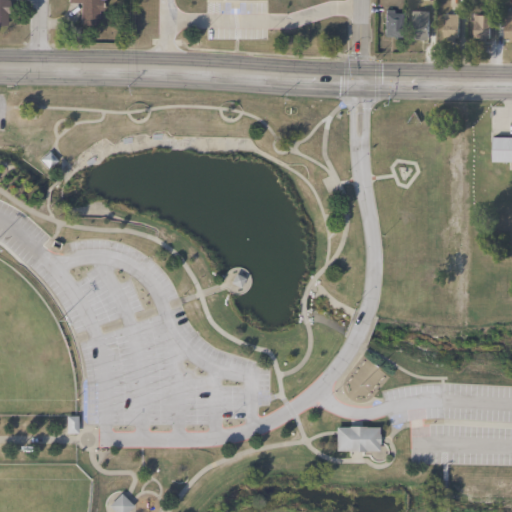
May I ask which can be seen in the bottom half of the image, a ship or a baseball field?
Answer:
baseball field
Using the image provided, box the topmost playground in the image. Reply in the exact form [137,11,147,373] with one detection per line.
[344,358,389,402]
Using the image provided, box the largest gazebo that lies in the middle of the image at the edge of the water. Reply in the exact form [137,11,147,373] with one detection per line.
[232,272,248,288]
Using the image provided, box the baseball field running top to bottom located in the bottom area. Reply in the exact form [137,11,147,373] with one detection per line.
[0,259,77,416]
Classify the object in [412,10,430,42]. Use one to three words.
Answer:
house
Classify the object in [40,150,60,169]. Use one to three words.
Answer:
gazebo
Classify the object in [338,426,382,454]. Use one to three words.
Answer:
building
